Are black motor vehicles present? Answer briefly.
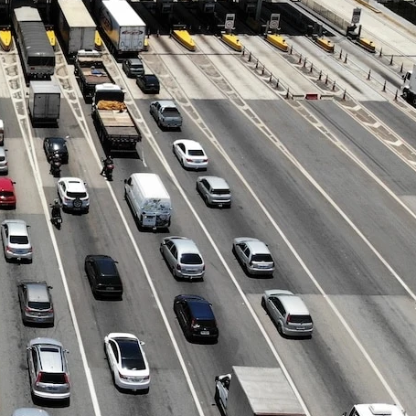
Yes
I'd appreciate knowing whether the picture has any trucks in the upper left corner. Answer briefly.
Yes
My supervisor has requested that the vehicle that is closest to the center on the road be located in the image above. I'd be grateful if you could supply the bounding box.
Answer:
[192,178,232,208]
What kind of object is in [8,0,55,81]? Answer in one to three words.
truck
